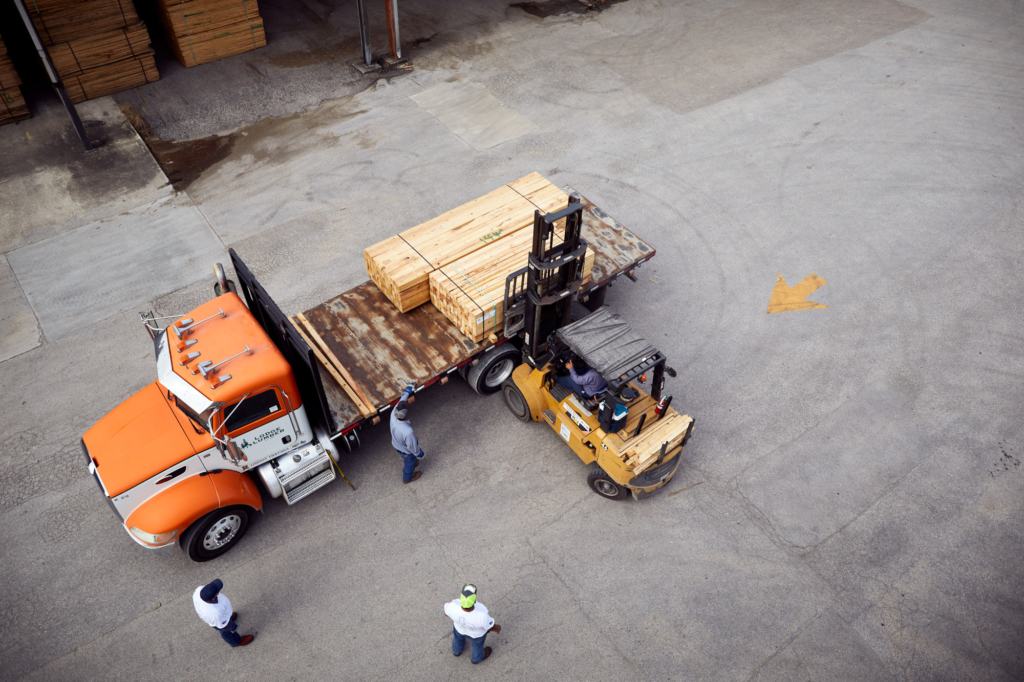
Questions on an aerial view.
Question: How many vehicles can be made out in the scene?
two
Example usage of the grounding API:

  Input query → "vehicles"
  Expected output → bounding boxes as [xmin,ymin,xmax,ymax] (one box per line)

[501,185,700,507]
[75,184,658,621]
